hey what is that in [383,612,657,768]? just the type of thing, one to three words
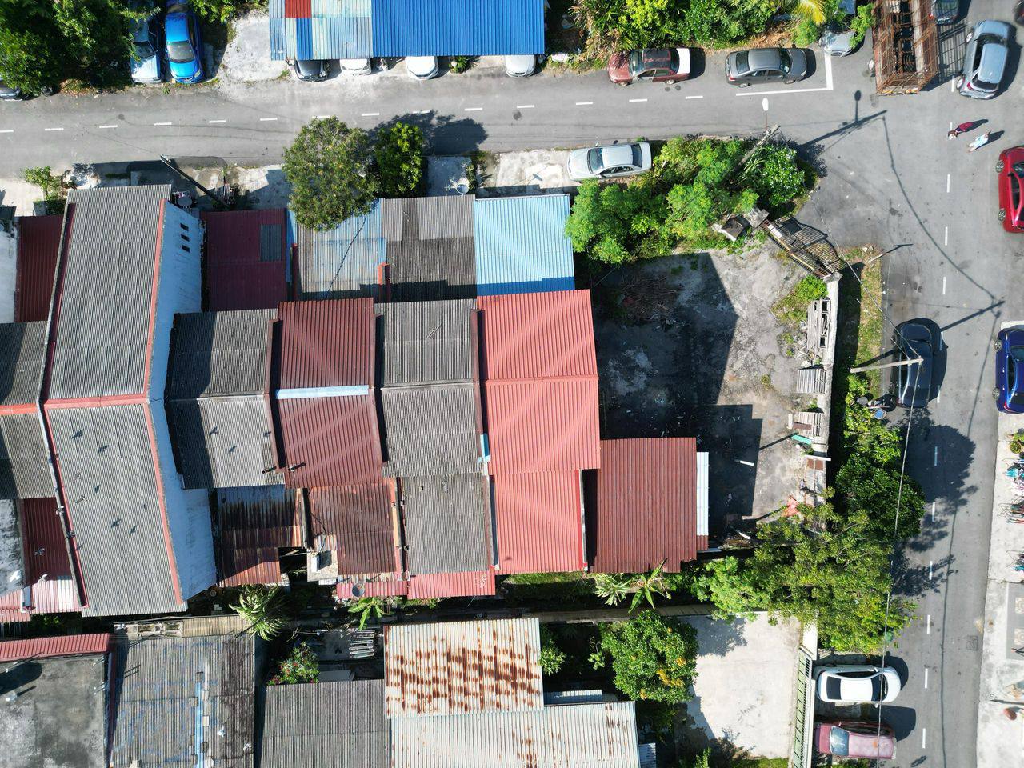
house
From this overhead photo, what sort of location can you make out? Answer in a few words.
residential area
